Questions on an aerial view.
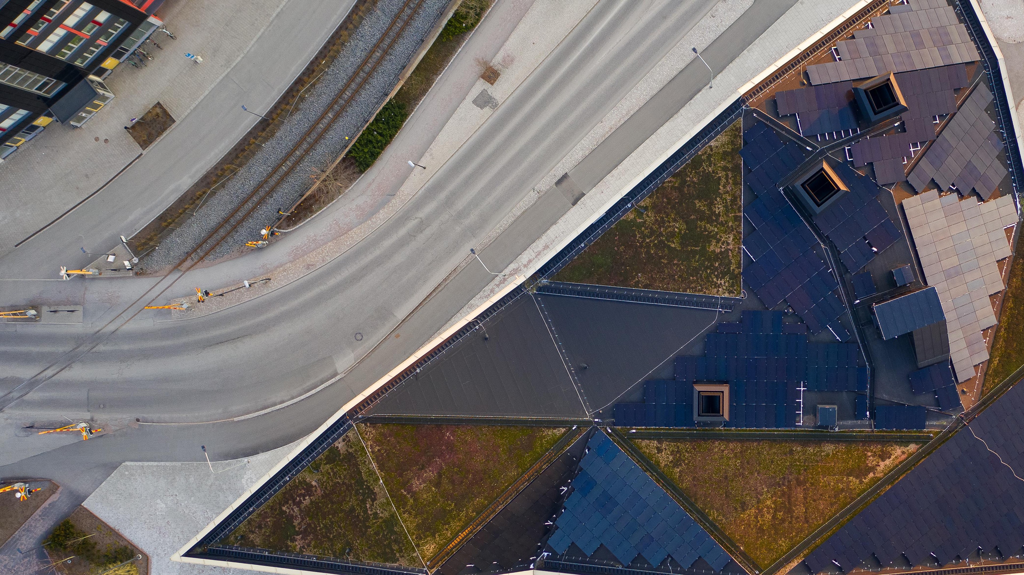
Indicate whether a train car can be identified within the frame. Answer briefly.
No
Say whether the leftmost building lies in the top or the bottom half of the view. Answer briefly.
top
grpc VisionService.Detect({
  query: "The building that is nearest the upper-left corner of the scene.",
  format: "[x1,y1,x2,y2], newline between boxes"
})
[0,0,169,160]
